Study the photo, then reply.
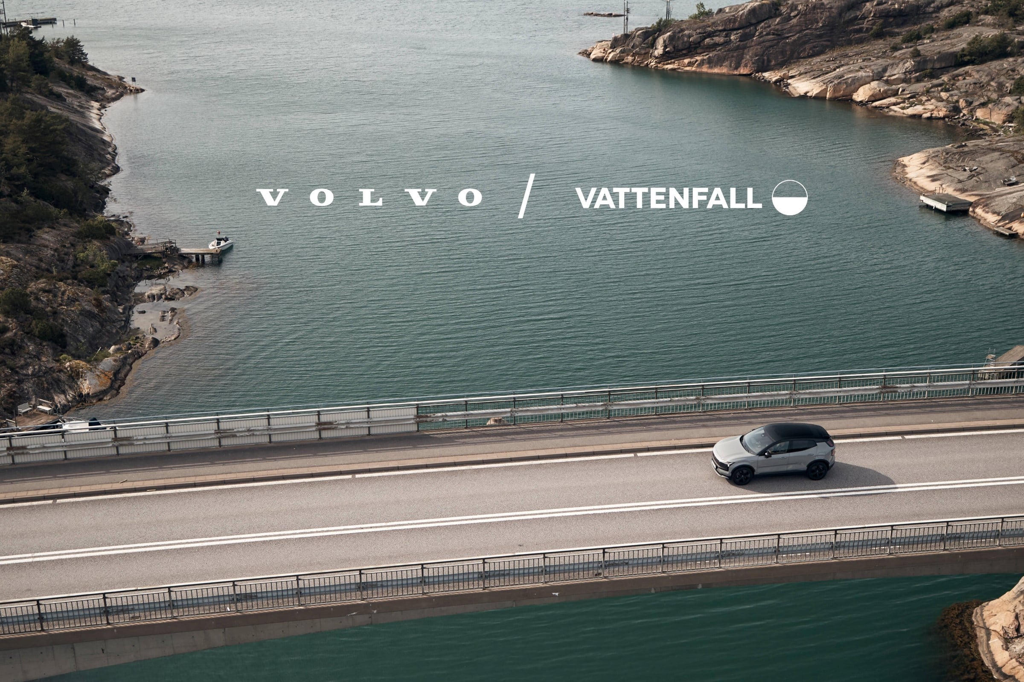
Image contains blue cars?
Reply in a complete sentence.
No, no blue car is visible in the view.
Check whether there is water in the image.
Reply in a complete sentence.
Yes, there is water in the image.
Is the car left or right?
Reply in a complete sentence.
The car is on the right side of the image.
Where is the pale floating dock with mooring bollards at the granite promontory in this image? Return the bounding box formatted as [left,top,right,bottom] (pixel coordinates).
[920,188,967,210]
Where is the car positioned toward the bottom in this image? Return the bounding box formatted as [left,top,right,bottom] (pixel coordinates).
[711,424,836,484]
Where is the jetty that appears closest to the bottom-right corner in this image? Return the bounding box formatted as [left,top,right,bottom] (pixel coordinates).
[977,342,1024,380]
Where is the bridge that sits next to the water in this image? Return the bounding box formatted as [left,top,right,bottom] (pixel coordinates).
[0,388,1024,681]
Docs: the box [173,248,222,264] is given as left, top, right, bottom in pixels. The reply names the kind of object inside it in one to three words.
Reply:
pier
